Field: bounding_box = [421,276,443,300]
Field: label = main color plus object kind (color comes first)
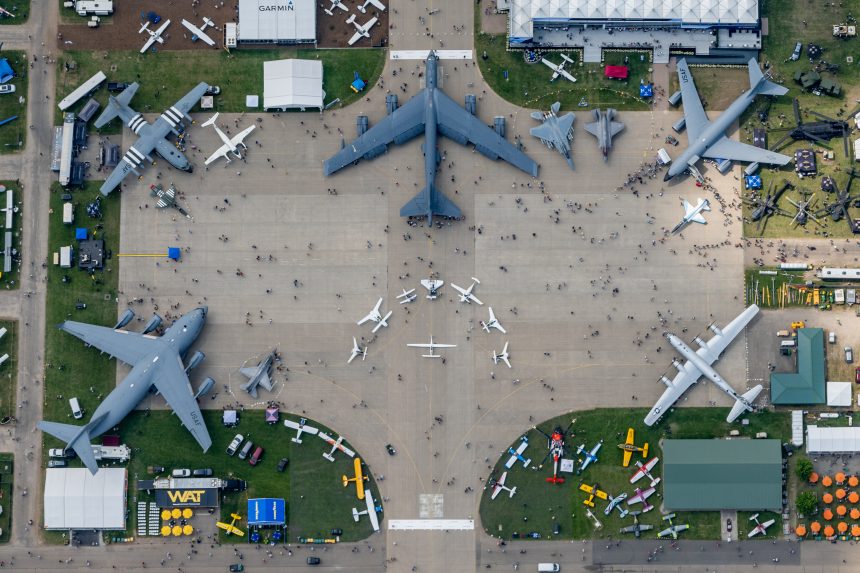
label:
white airplane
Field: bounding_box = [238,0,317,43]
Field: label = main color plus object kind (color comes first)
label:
white tent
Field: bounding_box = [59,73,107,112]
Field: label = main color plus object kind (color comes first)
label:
white trailer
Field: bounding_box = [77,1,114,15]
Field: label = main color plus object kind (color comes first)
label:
white camper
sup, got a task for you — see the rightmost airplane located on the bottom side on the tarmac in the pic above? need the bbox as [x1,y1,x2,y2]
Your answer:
[644,304,762,424]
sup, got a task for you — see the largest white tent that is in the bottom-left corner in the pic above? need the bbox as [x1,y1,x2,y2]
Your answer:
[44,468,127,538]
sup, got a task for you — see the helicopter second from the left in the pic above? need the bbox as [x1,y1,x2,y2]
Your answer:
[738,176,796,232]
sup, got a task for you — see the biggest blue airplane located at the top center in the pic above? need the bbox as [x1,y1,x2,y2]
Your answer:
[323,50,538,224]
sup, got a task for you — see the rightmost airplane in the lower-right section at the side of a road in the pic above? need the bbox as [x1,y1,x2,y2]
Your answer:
[747,513,776,538]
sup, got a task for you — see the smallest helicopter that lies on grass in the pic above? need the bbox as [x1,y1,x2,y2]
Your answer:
[786,184,817,224]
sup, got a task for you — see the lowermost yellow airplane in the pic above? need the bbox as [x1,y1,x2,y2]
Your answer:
[215,513,244,538]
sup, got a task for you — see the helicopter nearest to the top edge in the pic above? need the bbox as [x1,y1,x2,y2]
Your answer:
[774,99,860,156]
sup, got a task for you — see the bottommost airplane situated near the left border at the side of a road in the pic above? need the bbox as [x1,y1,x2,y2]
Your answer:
[33,306,215,476]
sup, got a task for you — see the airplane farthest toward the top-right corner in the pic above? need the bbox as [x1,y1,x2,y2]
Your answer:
[663,57,794,181]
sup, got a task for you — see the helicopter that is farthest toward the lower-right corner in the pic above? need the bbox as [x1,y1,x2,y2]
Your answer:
[532,423,583,483]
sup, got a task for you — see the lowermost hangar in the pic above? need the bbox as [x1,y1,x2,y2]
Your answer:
[663,439,784,513]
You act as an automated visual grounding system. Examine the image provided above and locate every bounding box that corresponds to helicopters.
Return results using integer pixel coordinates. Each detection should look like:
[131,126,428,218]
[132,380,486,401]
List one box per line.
[814,170,860,230]
[774,99,860,156]
[738,176,796,232]
[786,184,817,224]
[532,423,583,483]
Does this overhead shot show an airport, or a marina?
airport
